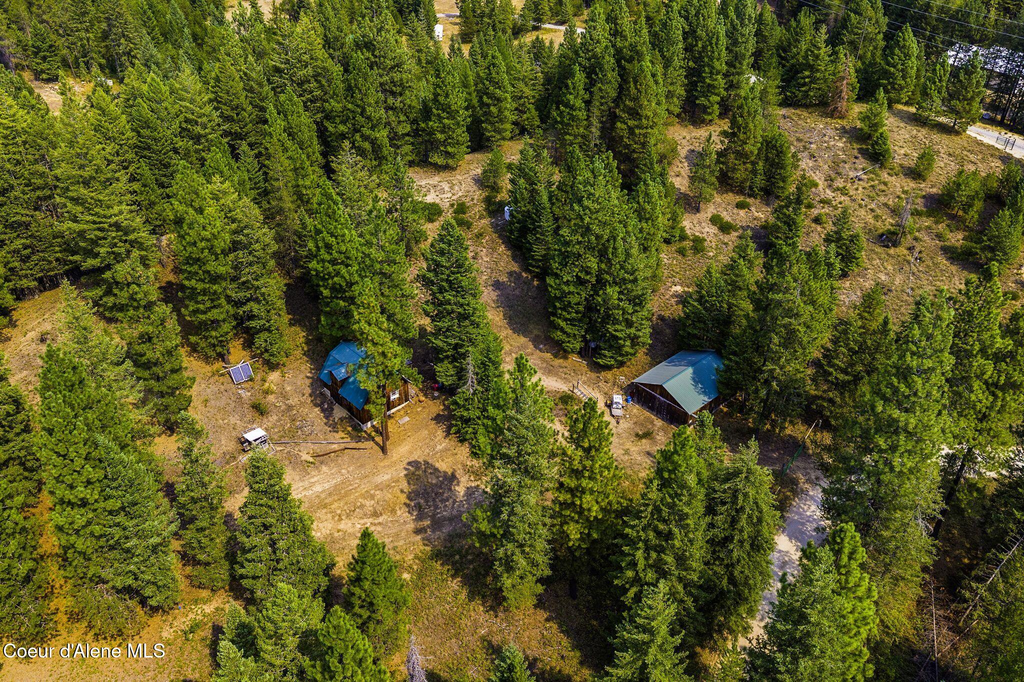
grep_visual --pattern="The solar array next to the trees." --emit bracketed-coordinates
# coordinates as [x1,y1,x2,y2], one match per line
[228,363,254,386]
